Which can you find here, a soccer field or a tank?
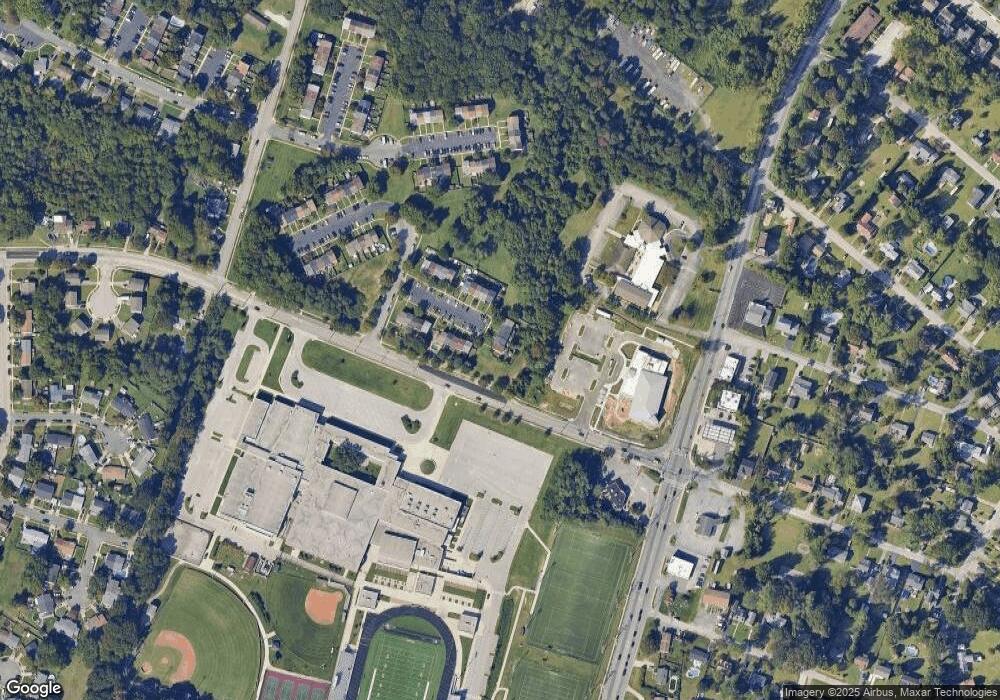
soccer field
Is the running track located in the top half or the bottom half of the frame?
bottom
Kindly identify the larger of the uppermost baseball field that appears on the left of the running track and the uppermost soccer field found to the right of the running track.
the soccer field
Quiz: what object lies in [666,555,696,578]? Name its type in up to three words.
building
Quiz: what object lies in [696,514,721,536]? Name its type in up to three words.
building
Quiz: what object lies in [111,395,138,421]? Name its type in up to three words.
house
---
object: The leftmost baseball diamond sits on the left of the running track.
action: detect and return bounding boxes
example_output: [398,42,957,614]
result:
[141,630,195,683]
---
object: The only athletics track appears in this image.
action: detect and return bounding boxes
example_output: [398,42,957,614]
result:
[348,604,456,700]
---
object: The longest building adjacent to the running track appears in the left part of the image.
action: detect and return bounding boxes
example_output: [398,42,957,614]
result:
[221,398,468,571]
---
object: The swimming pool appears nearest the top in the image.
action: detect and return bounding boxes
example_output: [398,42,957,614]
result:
[923,241,938,256]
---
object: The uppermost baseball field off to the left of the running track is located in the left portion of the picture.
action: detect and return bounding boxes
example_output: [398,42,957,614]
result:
[303,586,345,627]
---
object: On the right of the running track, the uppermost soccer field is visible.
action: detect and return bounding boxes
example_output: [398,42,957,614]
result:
[523,522,643,664]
